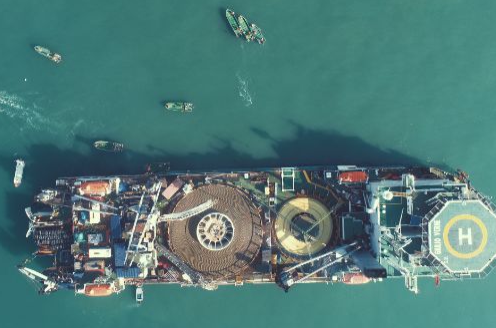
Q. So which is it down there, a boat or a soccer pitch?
boat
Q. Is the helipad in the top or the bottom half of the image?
bottom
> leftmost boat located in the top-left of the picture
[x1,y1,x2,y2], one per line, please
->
[32,45,62,64]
